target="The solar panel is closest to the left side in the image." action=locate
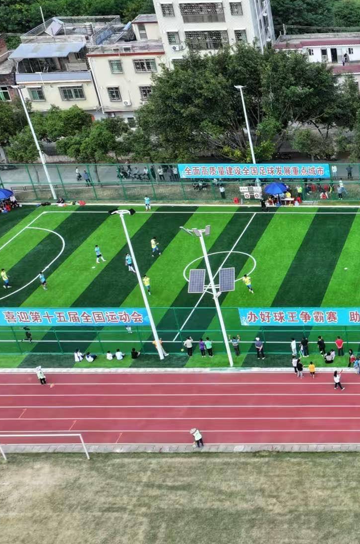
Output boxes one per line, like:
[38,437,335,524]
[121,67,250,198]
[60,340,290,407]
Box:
[188,270,207,295]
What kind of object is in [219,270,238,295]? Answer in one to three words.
solar panel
